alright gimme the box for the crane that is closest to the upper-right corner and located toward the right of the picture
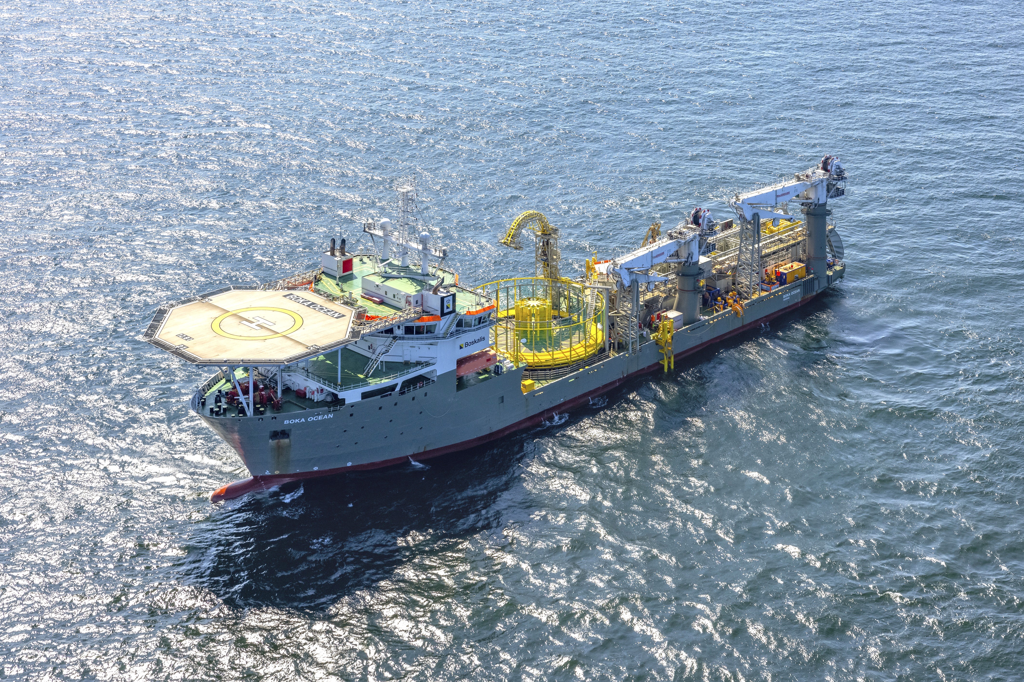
[722,152,854,270]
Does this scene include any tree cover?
No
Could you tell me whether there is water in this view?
Yes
